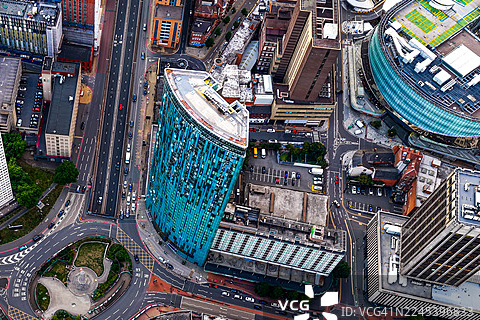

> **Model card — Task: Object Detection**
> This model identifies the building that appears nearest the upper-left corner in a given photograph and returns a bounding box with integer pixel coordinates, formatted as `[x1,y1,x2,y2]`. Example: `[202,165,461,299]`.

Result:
[0,0,63,62]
